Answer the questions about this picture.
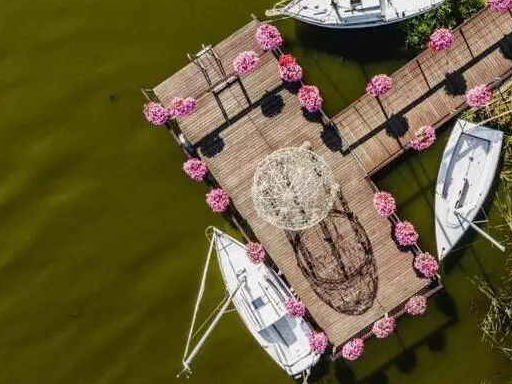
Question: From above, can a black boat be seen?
No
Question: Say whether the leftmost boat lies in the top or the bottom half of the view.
bottom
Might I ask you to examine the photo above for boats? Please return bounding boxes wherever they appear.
[433,118,503,261]
[171,226,341,381]
[255,0,446,29]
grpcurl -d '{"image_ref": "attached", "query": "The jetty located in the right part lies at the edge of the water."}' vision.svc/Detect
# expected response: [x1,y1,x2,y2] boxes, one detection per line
[137,4,512,370]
